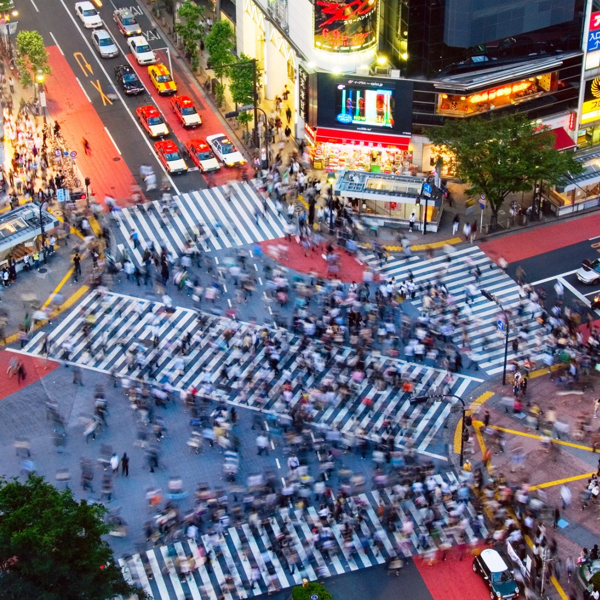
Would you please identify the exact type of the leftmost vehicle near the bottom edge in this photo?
car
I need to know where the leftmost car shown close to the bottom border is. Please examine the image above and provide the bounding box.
[471,542,522,599]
